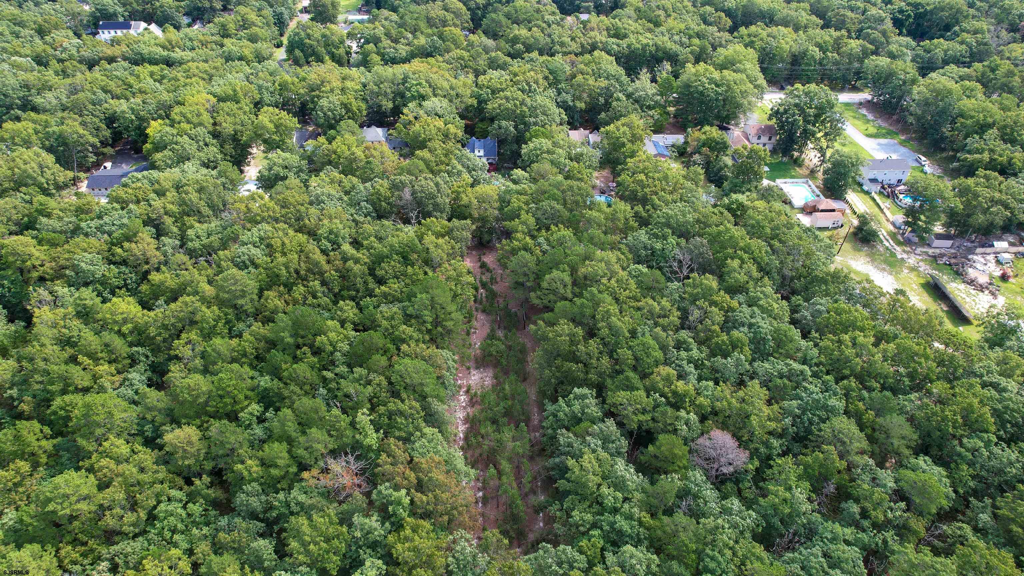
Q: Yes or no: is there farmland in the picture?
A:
No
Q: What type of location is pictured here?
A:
forest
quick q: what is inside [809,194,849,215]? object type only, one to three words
building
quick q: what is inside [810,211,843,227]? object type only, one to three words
shed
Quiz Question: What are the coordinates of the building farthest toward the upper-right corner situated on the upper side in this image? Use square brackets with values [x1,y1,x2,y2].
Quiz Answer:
[855,153,913,192]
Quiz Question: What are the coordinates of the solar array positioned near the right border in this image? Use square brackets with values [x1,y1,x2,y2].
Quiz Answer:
[926,274,987,327]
